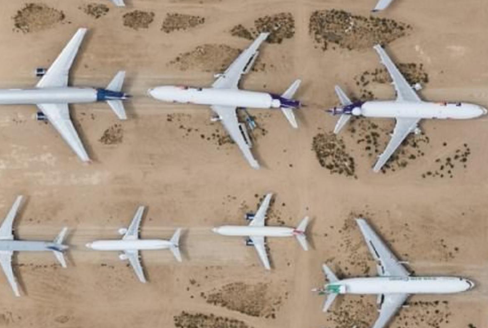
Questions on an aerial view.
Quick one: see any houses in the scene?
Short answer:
No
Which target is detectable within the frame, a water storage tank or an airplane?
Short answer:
airplane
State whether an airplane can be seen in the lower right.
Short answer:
Yes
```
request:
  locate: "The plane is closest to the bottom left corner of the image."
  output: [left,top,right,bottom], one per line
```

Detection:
[0,195,68,294]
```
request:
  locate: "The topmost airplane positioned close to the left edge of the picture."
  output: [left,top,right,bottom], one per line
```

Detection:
[0,28,130,167]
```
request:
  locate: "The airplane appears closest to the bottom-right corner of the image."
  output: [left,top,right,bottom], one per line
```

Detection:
[315,219,475,328]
